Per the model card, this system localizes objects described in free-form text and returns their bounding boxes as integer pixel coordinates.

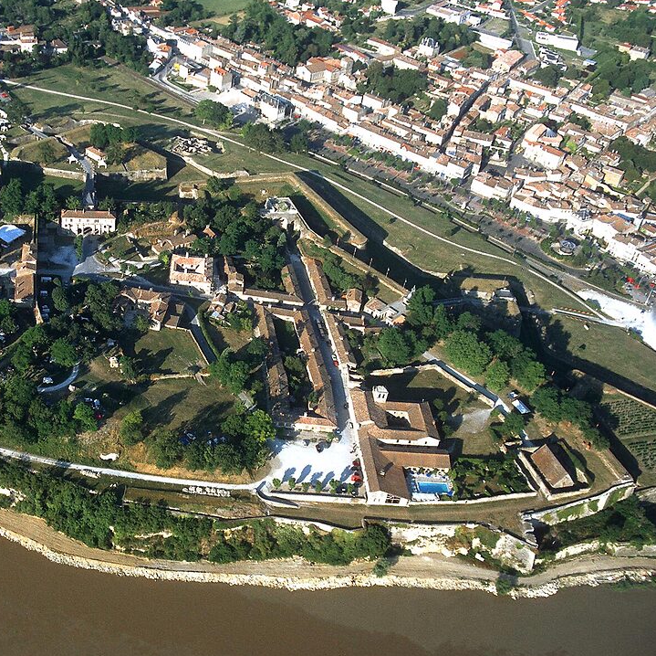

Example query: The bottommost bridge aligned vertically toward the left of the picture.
[81,164,97,213]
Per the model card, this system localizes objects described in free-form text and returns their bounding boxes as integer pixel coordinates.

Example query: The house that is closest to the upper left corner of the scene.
[3,30,34,56]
